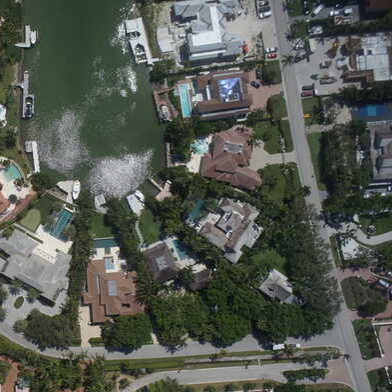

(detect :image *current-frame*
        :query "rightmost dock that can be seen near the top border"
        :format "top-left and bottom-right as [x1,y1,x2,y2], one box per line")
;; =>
[124,17,162,65]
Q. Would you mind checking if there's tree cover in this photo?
Yes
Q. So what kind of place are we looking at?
residential area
